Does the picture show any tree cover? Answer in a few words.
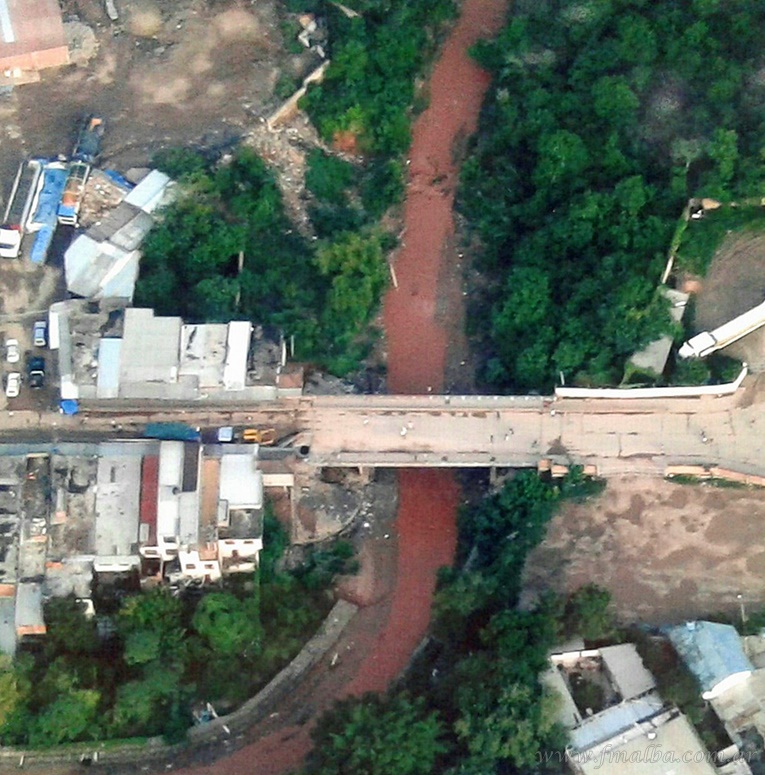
Yes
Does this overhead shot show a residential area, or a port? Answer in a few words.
residential area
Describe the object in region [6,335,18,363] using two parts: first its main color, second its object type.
white vehicle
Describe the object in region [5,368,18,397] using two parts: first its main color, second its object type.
white vehicle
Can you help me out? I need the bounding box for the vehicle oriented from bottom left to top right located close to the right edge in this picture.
[679,307,765,372]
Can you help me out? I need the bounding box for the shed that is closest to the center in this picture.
[278,363,304,397]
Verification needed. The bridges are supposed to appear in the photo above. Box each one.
[300,394,560,480]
